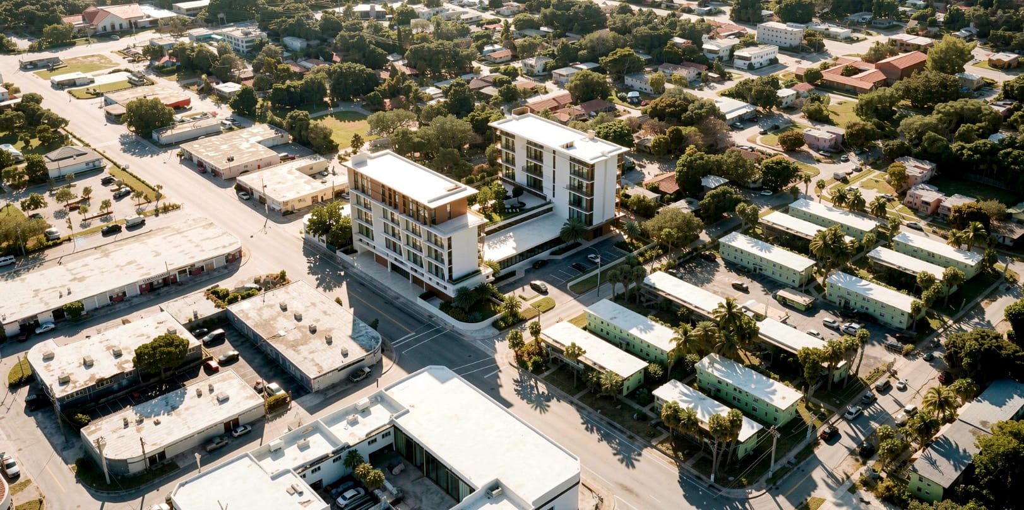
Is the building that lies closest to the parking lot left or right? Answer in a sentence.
The building that lies closest to the parking lot appears in the left half of the scene.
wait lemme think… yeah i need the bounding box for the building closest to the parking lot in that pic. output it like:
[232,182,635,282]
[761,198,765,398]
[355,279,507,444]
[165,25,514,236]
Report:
[40,150,104,180]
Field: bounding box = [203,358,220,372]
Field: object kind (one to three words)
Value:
car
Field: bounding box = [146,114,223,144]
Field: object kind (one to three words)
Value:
building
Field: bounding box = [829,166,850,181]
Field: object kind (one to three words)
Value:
vehicle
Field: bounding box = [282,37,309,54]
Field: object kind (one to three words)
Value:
house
